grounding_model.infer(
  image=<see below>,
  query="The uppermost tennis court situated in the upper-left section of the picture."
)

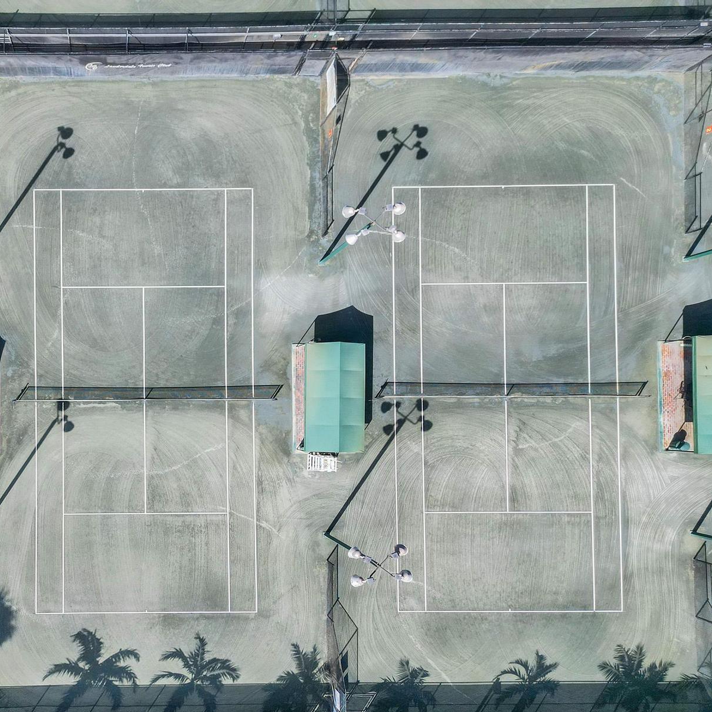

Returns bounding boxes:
[0,0,324,52]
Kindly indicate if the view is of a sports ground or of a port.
sports ground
